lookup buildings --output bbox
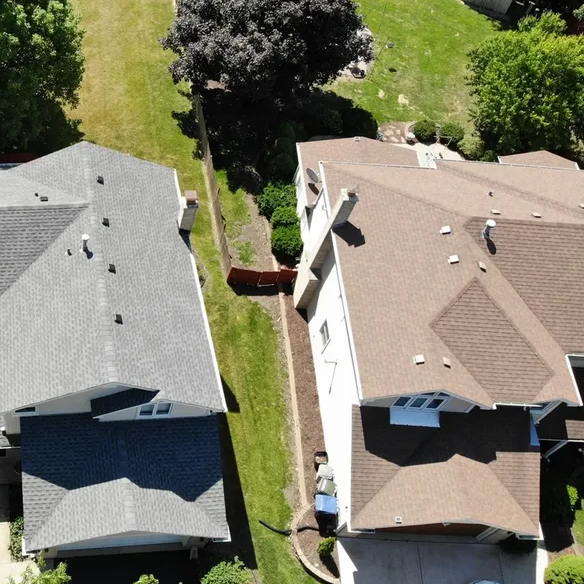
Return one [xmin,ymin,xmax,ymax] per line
[457,0,513,22]
[289,136,584,548]
[0,141,233,562]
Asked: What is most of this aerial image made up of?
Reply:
buildings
